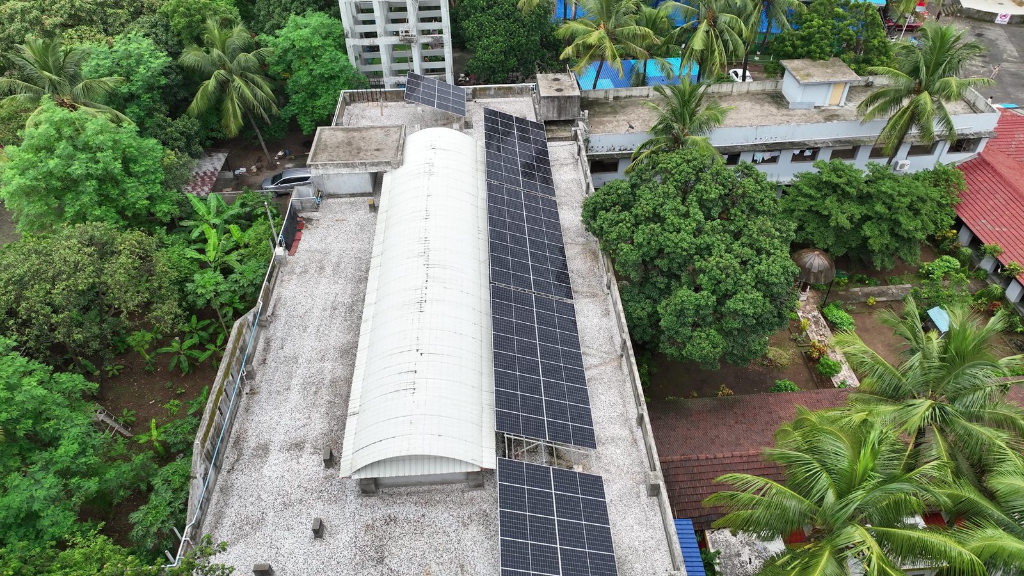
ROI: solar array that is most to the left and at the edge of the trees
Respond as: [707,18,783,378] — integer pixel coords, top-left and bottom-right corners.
[404,71,466,129]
